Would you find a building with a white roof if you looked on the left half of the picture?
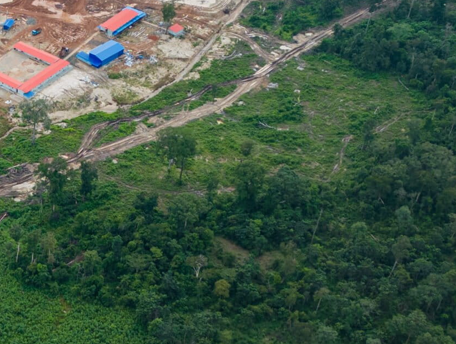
No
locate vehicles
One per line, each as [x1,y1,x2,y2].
[26,27,43,36]
[59,46,70,57]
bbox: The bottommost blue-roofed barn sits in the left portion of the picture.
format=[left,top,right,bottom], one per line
[77,41,124,68]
